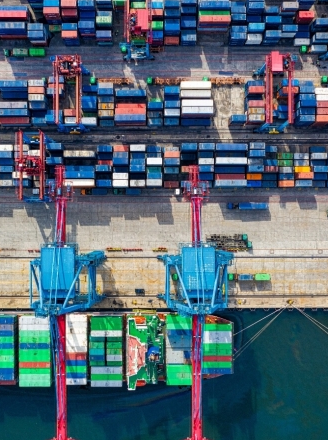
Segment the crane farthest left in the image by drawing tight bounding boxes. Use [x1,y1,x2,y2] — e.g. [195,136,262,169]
[16,131,60,203]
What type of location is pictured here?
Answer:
port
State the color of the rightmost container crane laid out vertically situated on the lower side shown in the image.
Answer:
blue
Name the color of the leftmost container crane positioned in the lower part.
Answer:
blue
